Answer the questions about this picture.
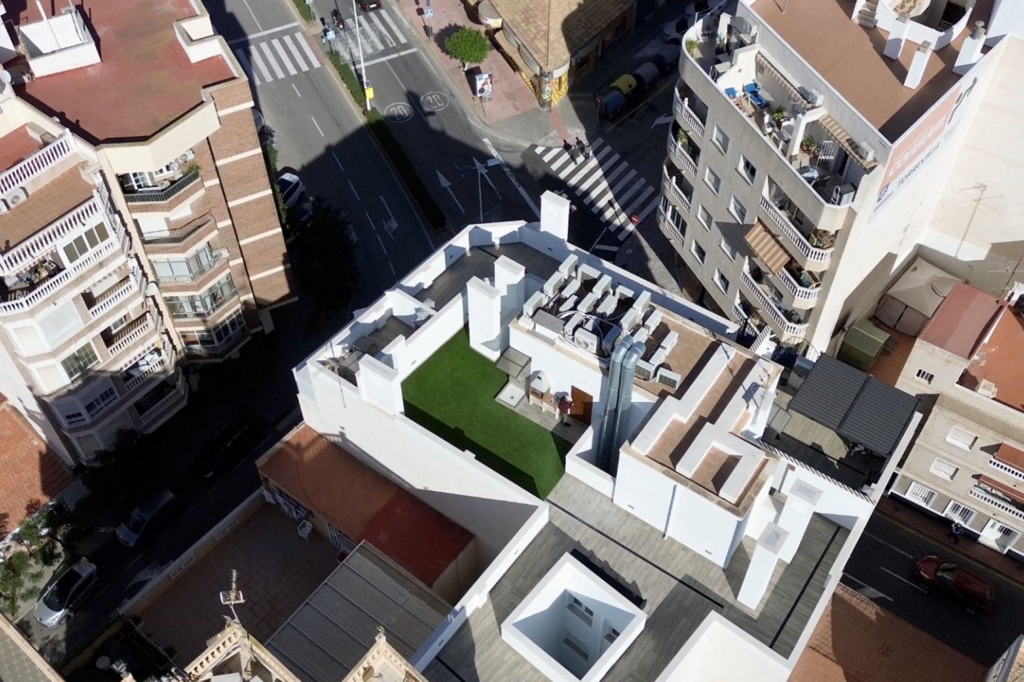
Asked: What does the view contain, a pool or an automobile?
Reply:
automobile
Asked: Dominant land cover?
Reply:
buildings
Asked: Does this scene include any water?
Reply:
No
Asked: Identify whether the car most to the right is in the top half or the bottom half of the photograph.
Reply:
bottom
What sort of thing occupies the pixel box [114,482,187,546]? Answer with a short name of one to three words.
car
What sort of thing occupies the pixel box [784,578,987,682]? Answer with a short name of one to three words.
building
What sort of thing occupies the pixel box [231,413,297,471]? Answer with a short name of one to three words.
car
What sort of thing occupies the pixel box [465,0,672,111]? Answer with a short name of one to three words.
building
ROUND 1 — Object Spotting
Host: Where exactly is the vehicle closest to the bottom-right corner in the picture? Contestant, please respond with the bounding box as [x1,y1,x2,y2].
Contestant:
[913,554,1006,616]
